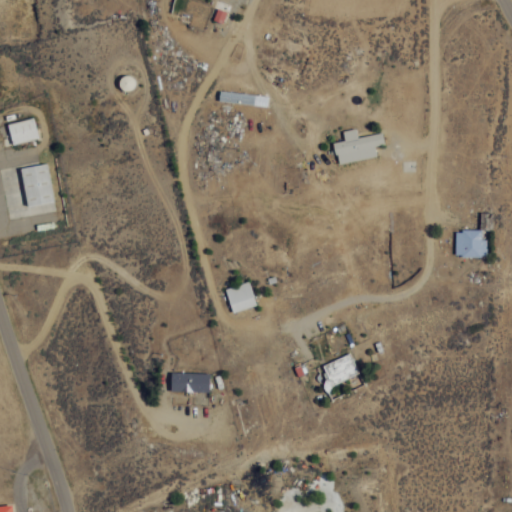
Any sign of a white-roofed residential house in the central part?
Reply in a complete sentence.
Yes, a white-roofed residential house shows up in the central part.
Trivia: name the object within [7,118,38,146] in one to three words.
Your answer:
shed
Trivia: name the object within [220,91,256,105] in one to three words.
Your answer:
barn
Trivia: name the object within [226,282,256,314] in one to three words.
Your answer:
house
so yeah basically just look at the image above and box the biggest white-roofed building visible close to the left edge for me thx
[22,164,53,206]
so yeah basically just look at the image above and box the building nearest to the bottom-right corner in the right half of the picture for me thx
[322,354,359,392]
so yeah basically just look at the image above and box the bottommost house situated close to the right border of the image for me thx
[458,230,488,258]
